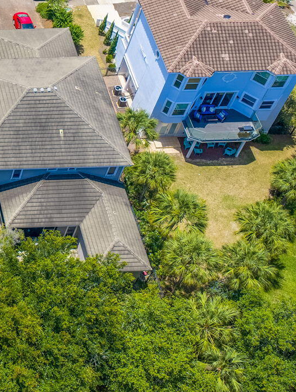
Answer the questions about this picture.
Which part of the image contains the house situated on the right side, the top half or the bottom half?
top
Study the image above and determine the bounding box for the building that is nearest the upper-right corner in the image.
[74,0,296,162]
